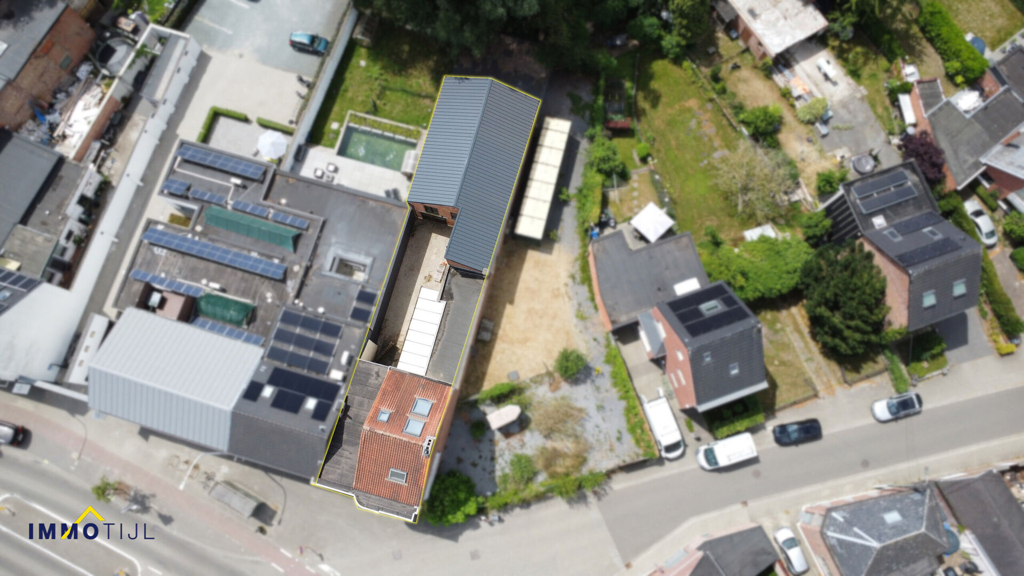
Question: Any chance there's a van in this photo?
Yes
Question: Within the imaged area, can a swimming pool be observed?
Yes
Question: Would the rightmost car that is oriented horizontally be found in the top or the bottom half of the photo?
bottom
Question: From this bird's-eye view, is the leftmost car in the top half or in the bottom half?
bottom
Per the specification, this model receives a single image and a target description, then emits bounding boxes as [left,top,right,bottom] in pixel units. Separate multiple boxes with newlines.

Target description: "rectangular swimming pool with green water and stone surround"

[335,109,429,172]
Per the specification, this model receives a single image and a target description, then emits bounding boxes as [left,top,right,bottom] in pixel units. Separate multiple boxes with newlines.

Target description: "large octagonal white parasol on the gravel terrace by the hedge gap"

[248,120,280,150]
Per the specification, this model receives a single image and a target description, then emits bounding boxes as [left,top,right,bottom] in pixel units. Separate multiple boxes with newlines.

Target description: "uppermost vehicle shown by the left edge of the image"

[0,420,27,447]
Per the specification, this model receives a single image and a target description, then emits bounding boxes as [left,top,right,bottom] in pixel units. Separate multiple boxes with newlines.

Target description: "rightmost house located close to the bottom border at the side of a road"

[905,467,1024,576]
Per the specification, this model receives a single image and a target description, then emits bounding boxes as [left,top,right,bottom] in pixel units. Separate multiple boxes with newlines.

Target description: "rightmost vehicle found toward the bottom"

[869,392,926,422]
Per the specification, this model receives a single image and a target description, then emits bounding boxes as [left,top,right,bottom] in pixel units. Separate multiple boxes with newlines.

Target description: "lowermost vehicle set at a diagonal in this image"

[769,522,814,576]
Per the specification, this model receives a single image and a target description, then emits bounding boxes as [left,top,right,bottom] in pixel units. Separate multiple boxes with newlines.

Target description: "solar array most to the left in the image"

[0,269,38,289]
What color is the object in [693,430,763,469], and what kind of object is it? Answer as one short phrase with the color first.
white van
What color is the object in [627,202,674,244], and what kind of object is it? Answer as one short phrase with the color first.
white gazebo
